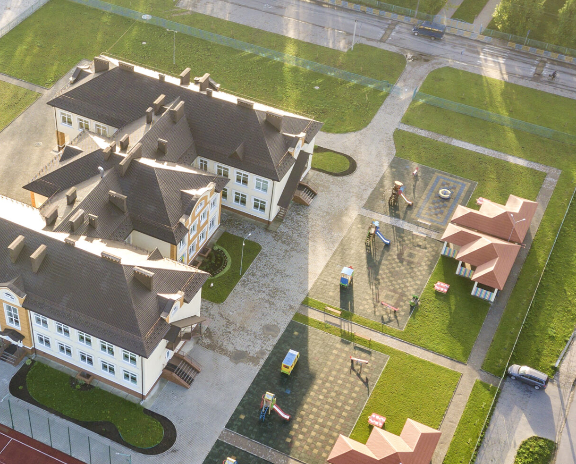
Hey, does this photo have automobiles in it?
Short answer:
Yes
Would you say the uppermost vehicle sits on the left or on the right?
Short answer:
right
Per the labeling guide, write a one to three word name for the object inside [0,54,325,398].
building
